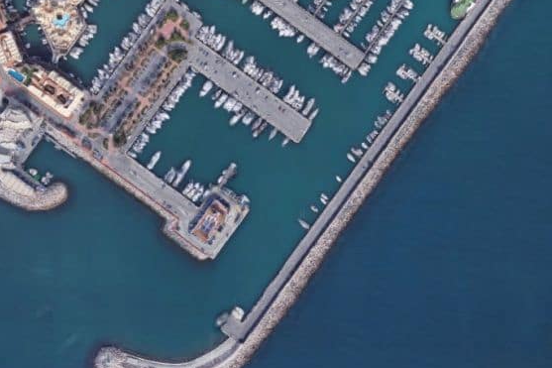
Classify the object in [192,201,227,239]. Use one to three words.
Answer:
building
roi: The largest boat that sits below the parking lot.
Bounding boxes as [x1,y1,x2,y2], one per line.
[172,162,189,187]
